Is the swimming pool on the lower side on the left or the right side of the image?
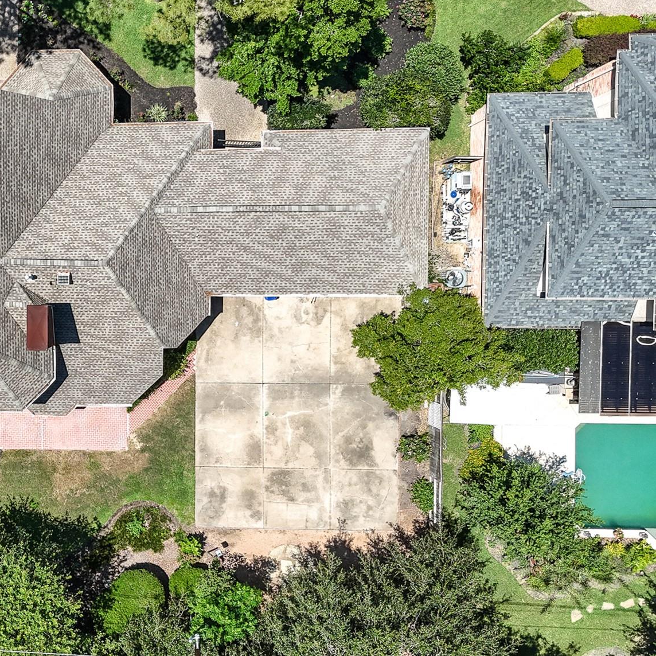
right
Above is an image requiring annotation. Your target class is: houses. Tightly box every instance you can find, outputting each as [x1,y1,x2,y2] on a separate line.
[467,31,656,332]
[0,46,433,417]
